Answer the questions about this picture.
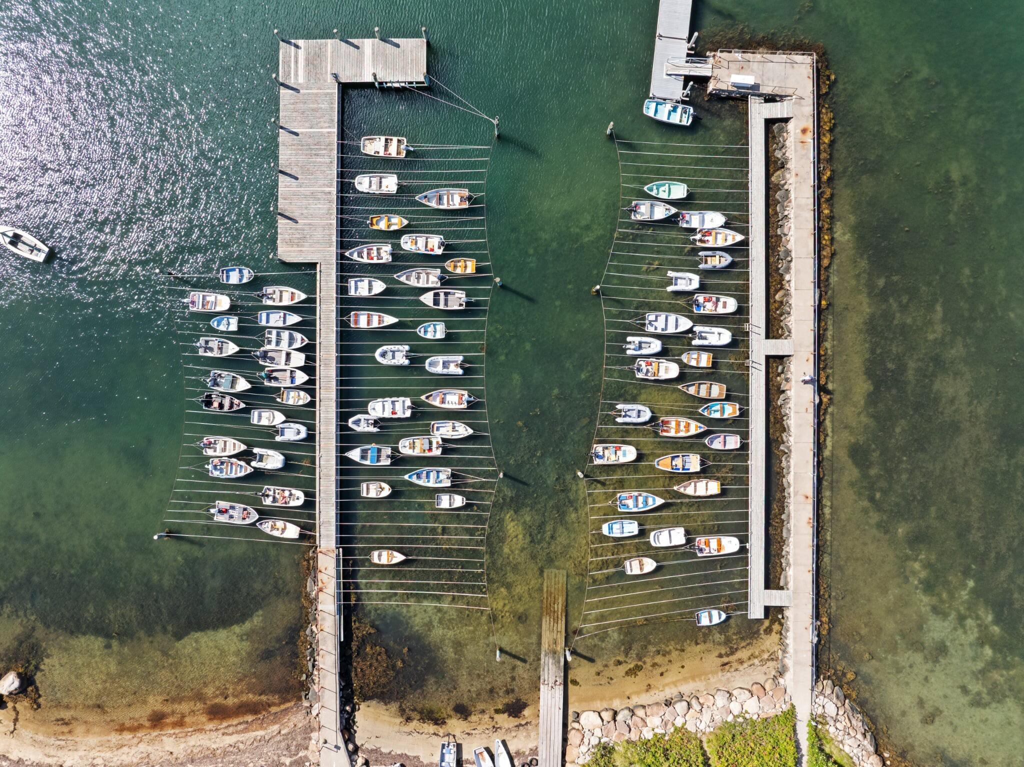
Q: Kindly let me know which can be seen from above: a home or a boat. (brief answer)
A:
boat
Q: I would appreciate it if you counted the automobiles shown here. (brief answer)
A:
0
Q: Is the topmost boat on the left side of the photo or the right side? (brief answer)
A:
right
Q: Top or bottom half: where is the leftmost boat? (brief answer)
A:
top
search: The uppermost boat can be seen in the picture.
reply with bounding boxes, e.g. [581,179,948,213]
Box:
[643,100,702,125]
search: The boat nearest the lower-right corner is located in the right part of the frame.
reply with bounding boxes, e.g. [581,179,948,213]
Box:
[694,610,726,626]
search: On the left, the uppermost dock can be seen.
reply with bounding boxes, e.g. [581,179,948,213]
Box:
[278,39,426,604]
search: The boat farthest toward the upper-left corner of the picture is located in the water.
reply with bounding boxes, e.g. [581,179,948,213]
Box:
[0,228,52,262]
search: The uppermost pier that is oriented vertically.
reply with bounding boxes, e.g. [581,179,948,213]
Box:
[649,0,693,103]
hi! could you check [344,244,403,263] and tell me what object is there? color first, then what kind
white boat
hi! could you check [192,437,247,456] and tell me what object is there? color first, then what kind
white boat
